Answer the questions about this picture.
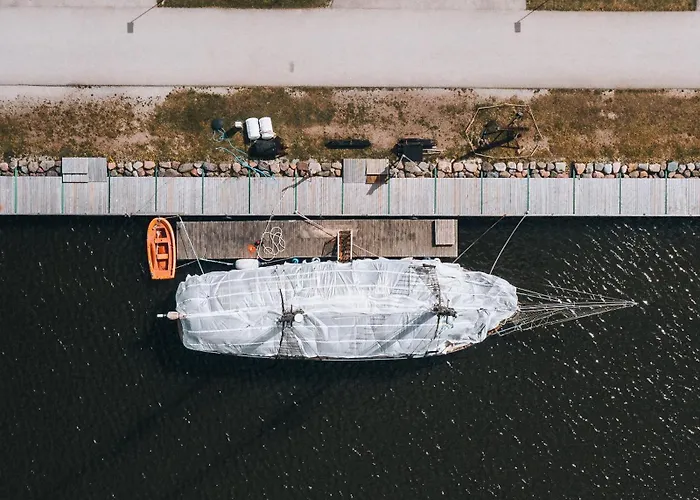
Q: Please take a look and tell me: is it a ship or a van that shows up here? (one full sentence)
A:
The image shows a ship.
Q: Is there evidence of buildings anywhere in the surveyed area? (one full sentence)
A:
No, no building is visible in the scene.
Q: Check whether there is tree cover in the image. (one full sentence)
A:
No, the scene doesn't show any tree cover.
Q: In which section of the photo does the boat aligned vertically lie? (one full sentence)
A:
The boat aligned vertically appears toward the left of the photo.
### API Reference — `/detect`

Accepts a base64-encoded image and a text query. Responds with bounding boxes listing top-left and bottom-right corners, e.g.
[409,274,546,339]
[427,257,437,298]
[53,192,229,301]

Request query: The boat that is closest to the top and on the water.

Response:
[146,218,176,279]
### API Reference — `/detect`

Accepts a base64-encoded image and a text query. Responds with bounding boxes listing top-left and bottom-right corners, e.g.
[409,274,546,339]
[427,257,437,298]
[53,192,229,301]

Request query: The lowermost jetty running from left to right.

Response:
[176,220,457,259]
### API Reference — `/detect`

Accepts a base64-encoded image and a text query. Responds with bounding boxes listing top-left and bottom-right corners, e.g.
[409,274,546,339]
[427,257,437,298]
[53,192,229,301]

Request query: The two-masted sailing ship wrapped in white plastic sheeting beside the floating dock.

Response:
[157,256,636,360]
